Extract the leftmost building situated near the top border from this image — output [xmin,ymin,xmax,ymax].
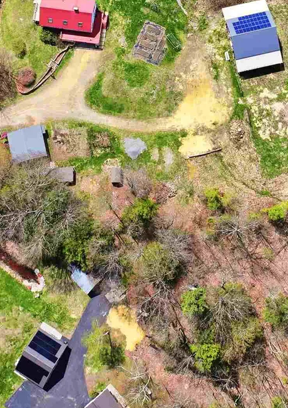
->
[33,0,112,54]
